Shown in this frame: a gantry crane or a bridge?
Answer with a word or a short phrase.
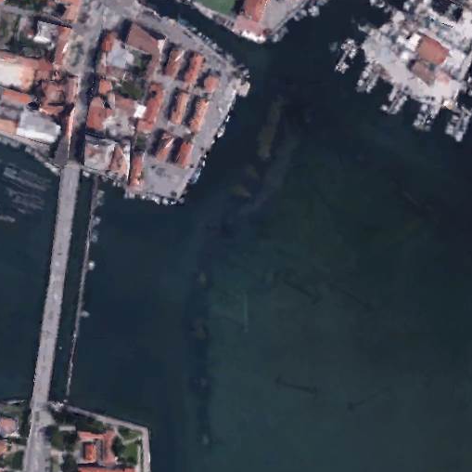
bridge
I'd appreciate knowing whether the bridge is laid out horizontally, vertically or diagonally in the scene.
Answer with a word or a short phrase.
vertically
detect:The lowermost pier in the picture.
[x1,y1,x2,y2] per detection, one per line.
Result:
[66,178,96,401]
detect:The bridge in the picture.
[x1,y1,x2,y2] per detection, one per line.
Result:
[30,162,79,404]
